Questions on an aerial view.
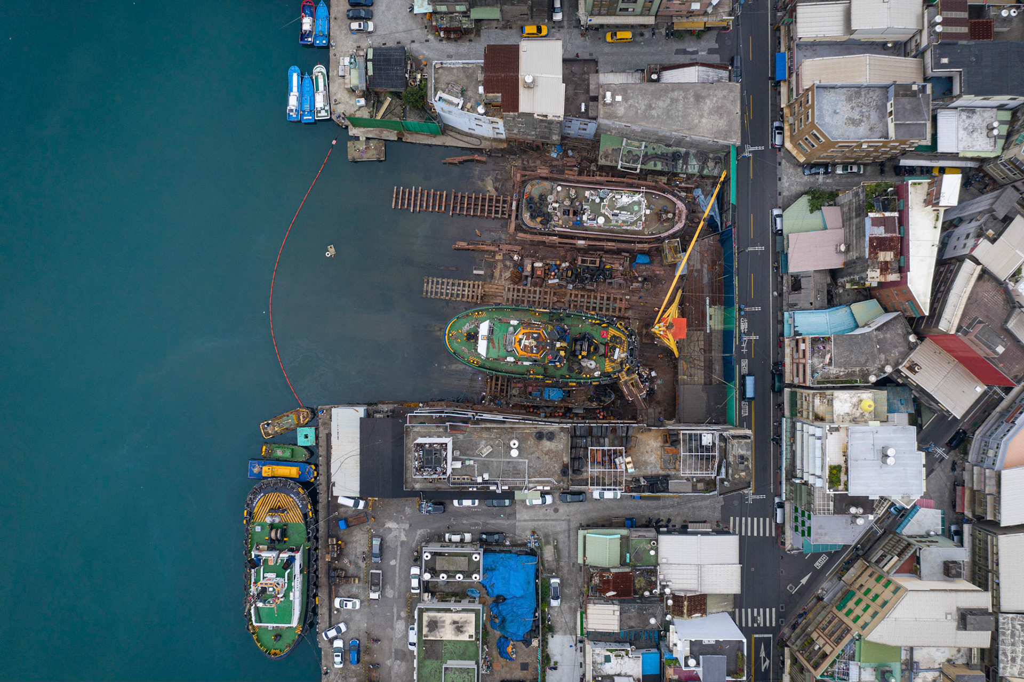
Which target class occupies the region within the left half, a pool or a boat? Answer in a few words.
boat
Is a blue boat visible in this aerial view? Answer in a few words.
Yes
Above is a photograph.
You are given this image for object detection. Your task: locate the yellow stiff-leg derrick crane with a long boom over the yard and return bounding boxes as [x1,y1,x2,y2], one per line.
[649,167,729,360]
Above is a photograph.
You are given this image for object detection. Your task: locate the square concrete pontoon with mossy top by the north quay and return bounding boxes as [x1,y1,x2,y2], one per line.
[348,137,386,162]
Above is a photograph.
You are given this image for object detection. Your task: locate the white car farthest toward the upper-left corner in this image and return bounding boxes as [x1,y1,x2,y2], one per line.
[347,19,374,33]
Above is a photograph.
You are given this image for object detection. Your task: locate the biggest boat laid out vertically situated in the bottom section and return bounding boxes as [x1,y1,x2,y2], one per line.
[242,475,319,662]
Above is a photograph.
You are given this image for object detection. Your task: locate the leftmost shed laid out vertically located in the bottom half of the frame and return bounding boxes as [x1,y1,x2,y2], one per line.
[330,405,368,498]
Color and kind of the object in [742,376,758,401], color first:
blue vehicle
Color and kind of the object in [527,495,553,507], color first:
white vehicle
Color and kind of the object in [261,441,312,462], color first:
green boat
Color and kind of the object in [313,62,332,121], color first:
white boat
